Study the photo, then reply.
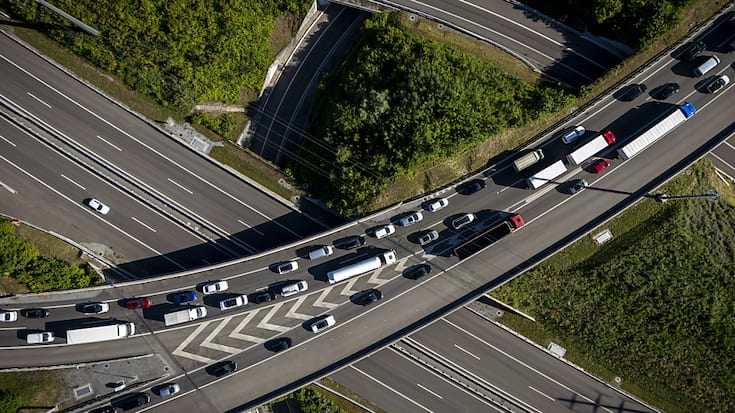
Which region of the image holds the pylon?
top left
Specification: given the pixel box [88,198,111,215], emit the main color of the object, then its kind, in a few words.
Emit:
white car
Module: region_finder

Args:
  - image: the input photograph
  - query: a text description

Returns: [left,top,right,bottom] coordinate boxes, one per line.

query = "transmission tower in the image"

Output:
[40,0,103,38]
